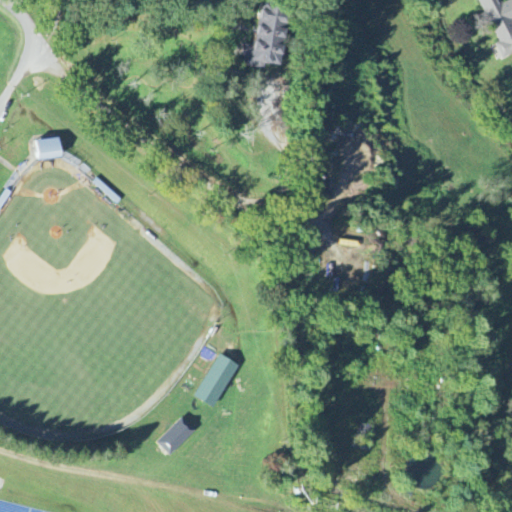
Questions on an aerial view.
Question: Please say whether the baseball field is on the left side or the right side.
left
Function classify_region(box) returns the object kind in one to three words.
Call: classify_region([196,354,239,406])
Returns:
shed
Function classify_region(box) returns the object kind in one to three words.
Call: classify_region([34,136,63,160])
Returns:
building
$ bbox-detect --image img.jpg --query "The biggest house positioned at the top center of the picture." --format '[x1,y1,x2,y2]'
[247,4,288,68]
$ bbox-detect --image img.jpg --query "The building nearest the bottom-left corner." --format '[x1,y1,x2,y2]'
[155,418,194,456]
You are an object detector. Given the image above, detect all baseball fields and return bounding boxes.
[0,160,220,440]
